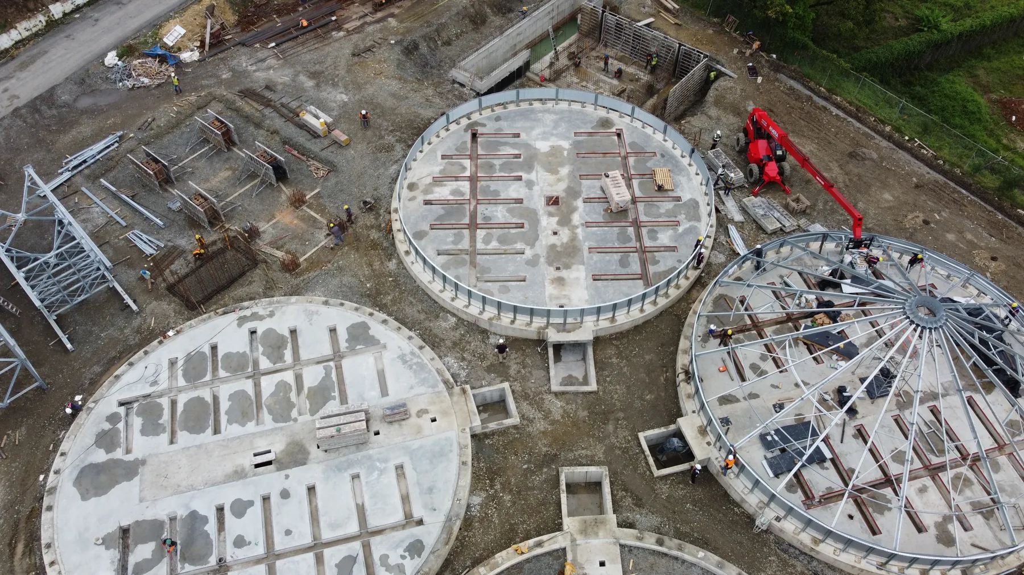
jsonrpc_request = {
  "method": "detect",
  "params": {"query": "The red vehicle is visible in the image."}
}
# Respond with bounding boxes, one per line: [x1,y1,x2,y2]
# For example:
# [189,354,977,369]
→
[728,104,875,270]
